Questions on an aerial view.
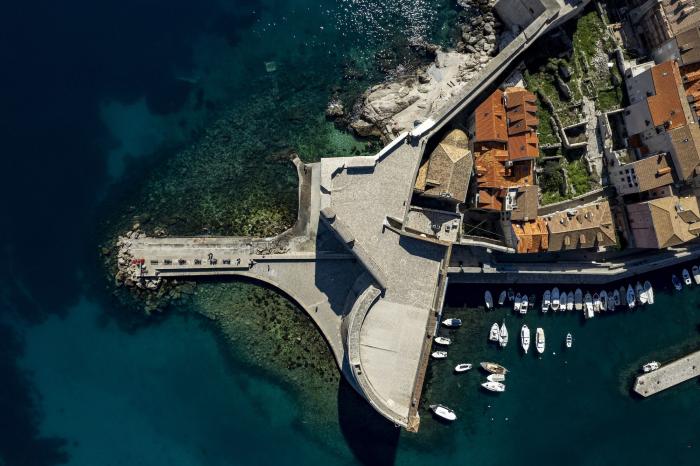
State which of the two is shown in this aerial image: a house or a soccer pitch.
house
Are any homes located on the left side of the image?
No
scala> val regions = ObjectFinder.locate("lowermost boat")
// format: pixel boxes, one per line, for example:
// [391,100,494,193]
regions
[430,405,456,420]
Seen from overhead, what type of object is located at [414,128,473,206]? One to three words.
building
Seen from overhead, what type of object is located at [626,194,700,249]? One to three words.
house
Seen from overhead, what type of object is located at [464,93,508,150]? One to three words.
house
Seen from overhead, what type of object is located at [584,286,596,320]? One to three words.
boat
